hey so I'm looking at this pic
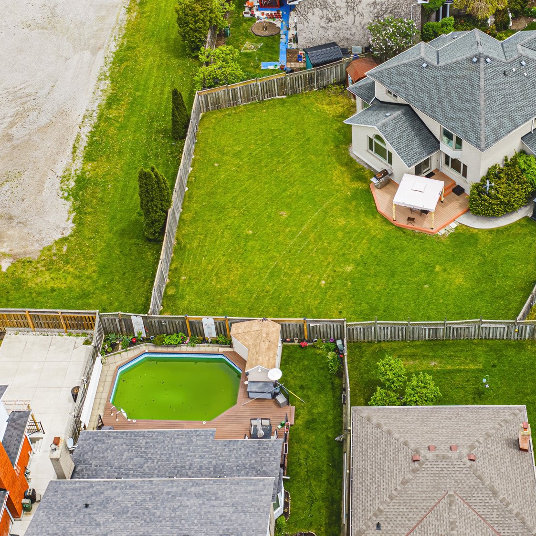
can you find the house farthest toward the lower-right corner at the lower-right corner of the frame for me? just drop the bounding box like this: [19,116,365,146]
[348,404,536,536]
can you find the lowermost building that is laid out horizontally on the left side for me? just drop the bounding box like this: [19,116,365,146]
[24,429,290,536]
